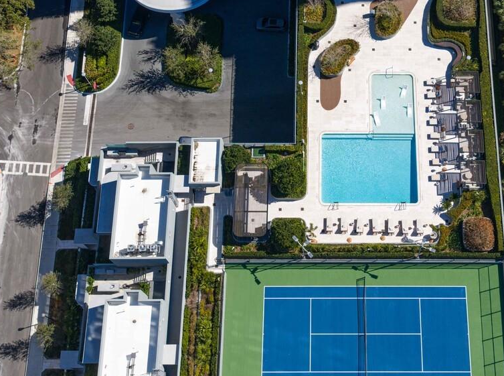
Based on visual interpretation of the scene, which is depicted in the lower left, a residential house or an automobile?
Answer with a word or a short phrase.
residential house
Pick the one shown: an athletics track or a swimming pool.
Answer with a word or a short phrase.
swimming pool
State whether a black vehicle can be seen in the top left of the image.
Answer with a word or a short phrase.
Yes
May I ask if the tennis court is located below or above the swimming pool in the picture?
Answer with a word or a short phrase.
below it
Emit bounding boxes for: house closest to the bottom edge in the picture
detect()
[60,263,173,376]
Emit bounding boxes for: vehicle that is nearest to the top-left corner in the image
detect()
[124,8,148,42]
